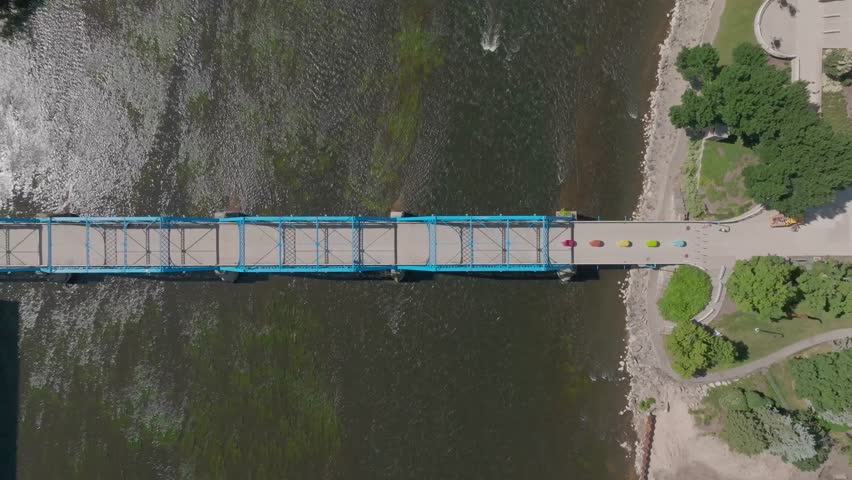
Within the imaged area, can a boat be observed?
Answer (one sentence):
No, there's no boat here.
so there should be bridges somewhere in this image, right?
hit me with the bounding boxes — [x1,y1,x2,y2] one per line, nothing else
[0,213,707,281]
